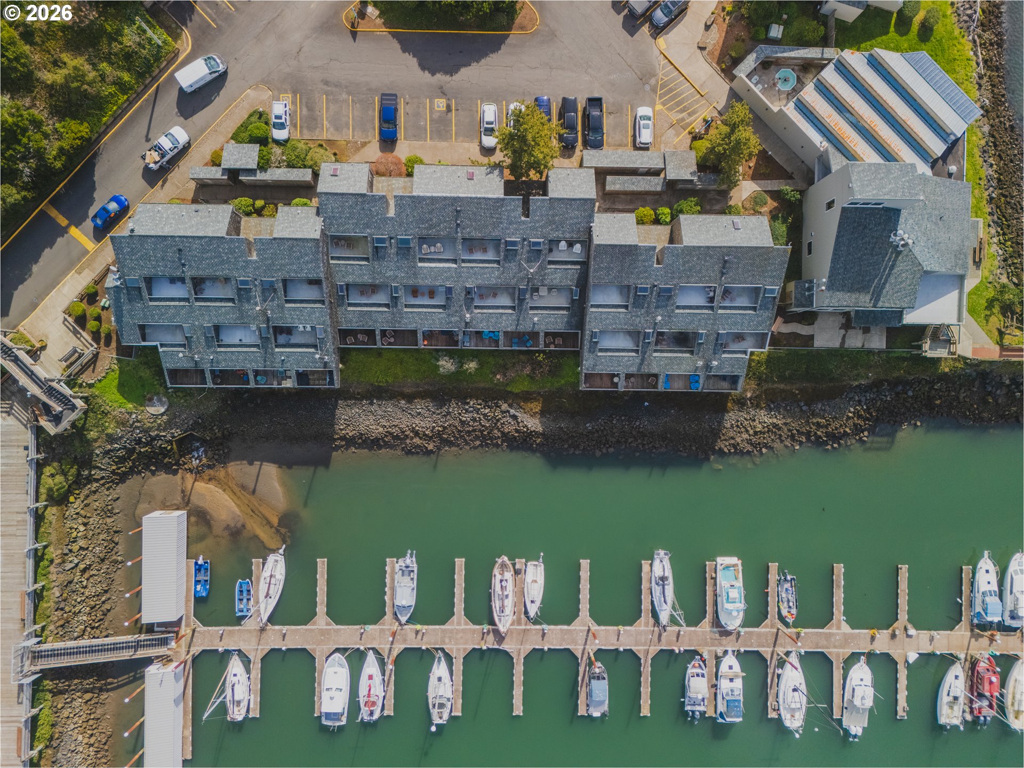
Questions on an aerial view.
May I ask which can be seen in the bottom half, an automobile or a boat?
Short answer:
boat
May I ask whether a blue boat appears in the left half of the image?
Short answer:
Yes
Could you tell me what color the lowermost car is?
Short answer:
blue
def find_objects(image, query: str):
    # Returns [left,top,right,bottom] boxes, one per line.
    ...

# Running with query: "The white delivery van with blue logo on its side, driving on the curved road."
[169,55,228,95]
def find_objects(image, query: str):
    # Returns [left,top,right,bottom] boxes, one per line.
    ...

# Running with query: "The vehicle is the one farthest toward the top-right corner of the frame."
[653,0,696,28]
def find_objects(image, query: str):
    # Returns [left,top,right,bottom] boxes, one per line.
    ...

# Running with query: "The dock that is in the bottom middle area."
[175,557,1024,759]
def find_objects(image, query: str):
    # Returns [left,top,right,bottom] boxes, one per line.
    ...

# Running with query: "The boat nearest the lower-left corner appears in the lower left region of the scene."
[204,650,251,725]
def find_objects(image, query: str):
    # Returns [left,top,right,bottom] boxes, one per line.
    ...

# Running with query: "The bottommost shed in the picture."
[144,661,188,768]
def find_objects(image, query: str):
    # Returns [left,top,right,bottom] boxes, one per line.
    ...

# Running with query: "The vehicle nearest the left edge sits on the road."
[89,192,132,231]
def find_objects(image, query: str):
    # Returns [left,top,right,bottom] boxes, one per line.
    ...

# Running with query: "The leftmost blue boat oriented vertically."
[194,550,211,598]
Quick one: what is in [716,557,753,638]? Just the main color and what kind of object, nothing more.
white boat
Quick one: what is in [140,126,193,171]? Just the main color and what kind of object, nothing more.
white truck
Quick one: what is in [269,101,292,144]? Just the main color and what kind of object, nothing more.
white car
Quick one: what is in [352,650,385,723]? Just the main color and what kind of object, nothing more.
white boat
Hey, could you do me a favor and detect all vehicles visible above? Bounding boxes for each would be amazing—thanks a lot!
[622,0,656,20]
[377,92,400,144]
[269,101,292,144]
[560,95,581,150]
[478,104,499,151]
[169,55,228,95]
[634,106,656,150]
[89,192,132,231]
[584,95,607,151]
[653,0,696,28]
[140,126,193,171]
[534,94,552,119]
